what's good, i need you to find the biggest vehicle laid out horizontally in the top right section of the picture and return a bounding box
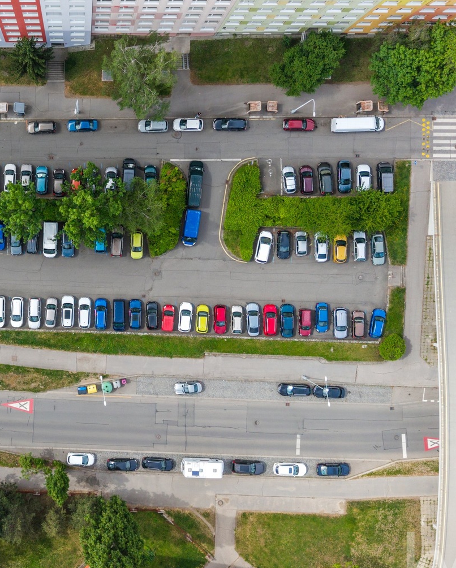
[329,115,382,133]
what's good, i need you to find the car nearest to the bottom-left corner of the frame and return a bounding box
[67,452,94,468]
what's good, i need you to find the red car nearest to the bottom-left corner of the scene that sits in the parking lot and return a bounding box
[161,304,176,332]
